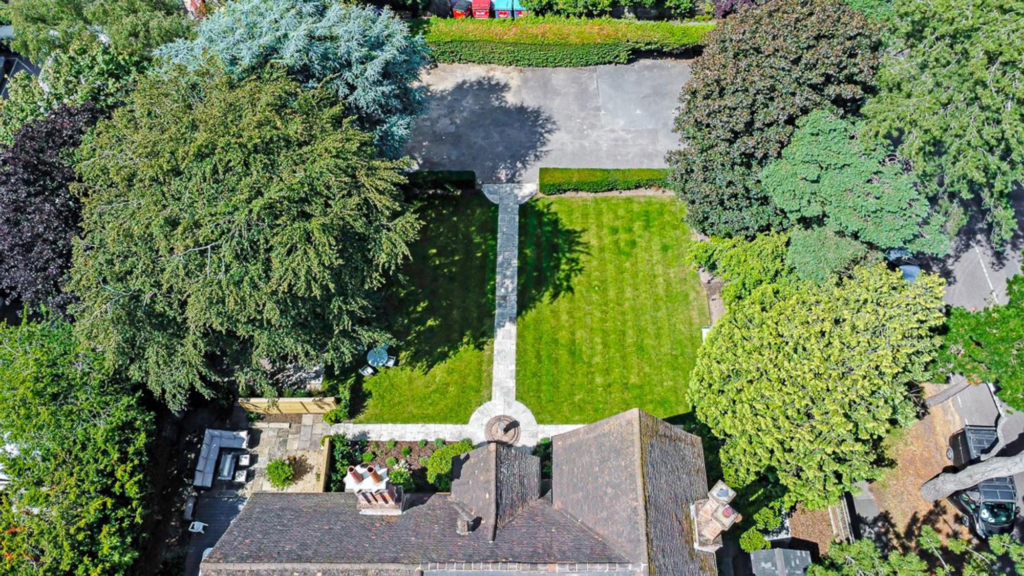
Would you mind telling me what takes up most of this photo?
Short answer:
trees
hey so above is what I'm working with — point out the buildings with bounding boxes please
[200,407,739,576]
[733,548,809,576]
